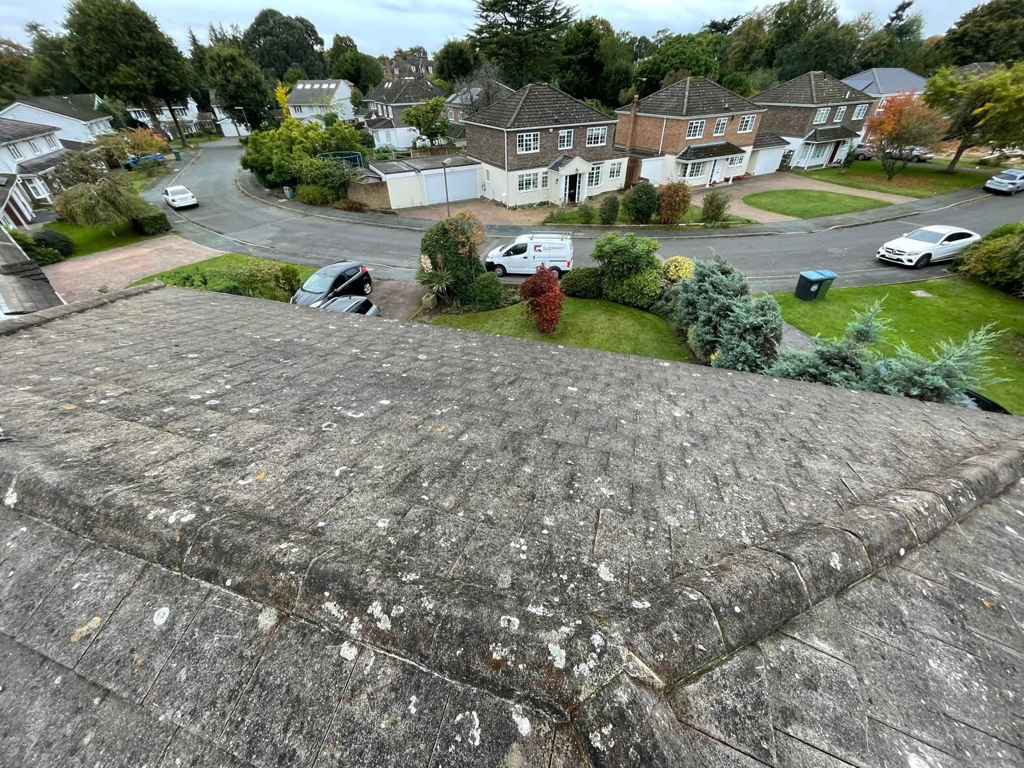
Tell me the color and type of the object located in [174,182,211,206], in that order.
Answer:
white car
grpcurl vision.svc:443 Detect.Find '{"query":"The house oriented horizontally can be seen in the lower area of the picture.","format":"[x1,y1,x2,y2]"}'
[0,280,1024,768]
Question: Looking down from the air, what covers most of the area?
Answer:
buildings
